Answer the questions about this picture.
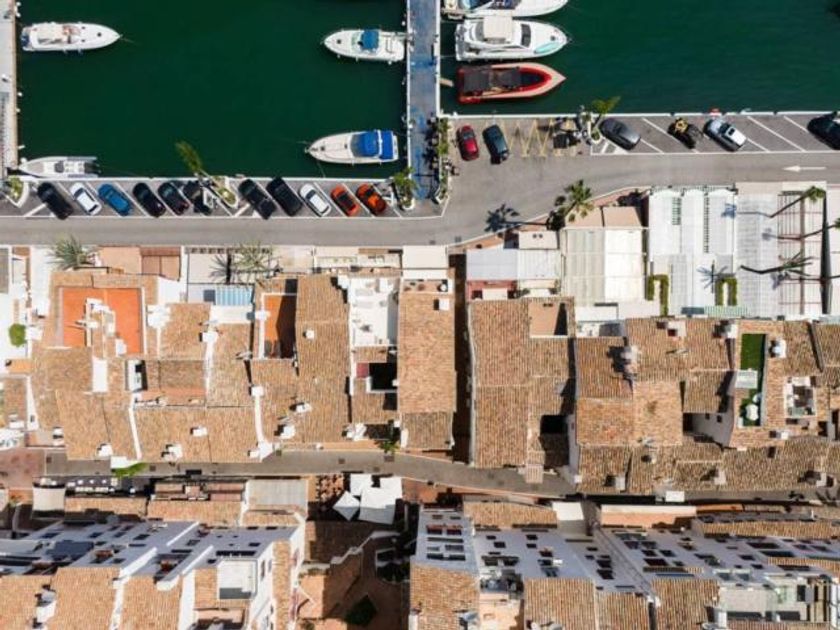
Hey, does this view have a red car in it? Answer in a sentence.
Yes, you can see a red car in this photo.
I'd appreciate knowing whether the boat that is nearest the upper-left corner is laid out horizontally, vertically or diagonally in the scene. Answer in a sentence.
The boat that is nearest the upper-left corner runs horizontally in the image.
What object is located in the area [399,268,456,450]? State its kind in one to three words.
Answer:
house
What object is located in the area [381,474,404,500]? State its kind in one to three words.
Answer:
umbrella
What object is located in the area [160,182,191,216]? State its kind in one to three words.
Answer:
car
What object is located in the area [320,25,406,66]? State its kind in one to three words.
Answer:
boat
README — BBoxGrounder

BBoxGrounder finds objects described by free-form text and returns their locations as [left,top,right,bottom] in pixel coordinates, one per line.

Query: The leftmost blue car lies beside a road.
[101,184,133,217]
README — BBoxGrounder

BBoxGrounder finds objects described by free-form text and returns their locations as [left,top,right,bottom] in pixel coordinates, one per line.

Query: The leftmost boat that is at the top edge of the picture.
[24,21,122,56]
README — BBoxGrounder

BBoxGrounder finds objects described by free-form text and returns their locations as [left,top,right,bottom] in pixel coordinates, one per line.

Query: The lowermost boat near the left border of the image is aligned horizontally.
[21,156,102,177]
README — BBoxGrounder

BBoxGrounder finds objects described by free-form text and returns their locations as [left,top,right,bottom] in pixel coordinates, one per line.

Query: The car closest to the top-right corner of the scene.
[809,116,840,147]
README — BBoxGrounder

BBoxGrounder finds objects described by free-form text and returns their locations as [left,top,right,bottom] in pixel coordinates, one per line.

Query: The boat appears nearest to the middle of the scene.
[303,130,402,168]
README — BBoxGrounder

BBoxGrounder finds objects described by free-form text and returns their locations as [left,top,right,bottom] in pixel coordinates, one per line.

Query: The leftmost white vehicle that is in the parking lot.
[73,185,102,215]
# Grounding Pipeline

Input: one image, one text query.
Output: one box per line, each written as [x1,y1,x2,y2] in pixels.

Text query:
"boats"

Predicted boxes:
[455,5,573,64]
[441,0,564,18]
[320,25,406,66]
[458,65,566,100]
[24,21,122,56]
[303,130,402,168]
[21,156,102,177]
